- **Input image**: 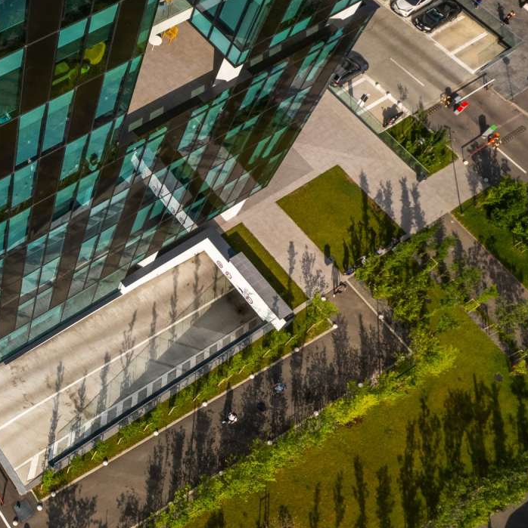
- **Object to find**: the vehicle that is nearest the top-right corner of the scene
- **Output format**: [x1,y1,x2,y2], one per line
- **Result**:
[416,0,459,32]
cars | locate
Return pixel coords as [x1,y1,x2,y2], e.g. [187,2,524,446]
[331,53,369,87]
[416,0,459,32]
[393,0,431,17]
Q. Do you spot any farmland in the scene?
No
